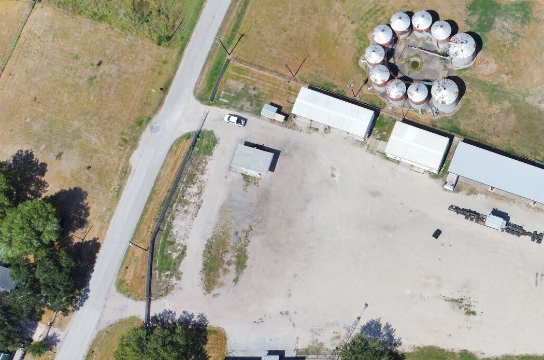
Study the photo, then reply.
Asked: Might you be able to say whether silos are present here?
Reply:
Yes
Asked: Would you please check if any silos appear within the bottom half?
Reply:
No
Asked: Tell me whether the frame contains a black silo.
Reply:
No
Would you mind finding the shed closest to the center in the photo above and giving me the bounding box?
[230,144,275,177]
